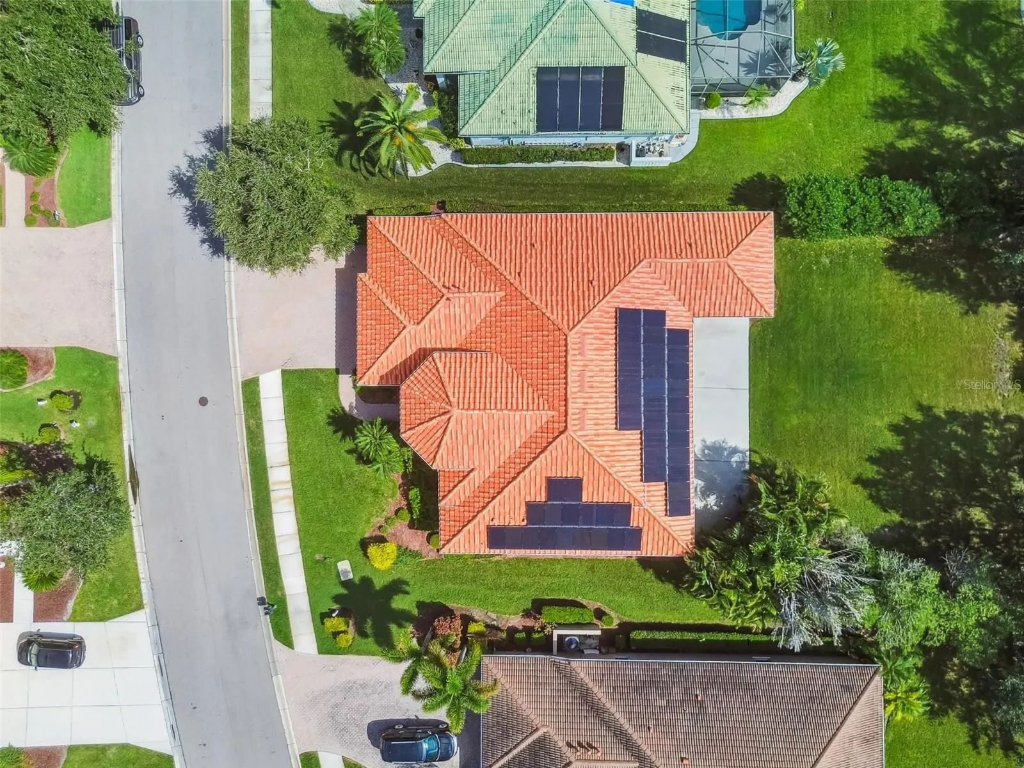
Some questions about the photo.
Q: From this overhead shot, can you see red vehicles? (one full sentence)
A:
No, no red vehicle is visible in the view.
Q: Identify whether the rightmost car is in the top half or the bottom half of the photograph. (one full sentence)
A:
You can find the rightmost car in the bottom half.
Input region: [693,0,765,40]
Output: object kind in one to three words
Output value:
swimming pool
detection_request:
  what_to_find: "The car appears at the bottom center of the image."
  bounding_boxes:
[378,723,460,768]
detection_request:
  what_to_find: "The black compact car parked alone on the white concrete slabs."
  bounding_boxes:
[15,632,88,672]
